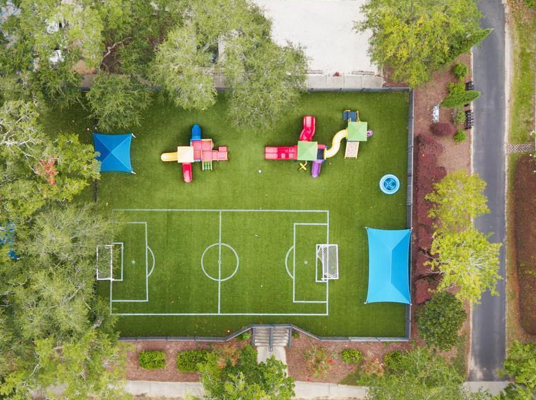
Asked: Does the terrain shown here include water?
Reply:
No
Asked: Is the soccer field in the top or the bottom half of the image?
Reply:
bottom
